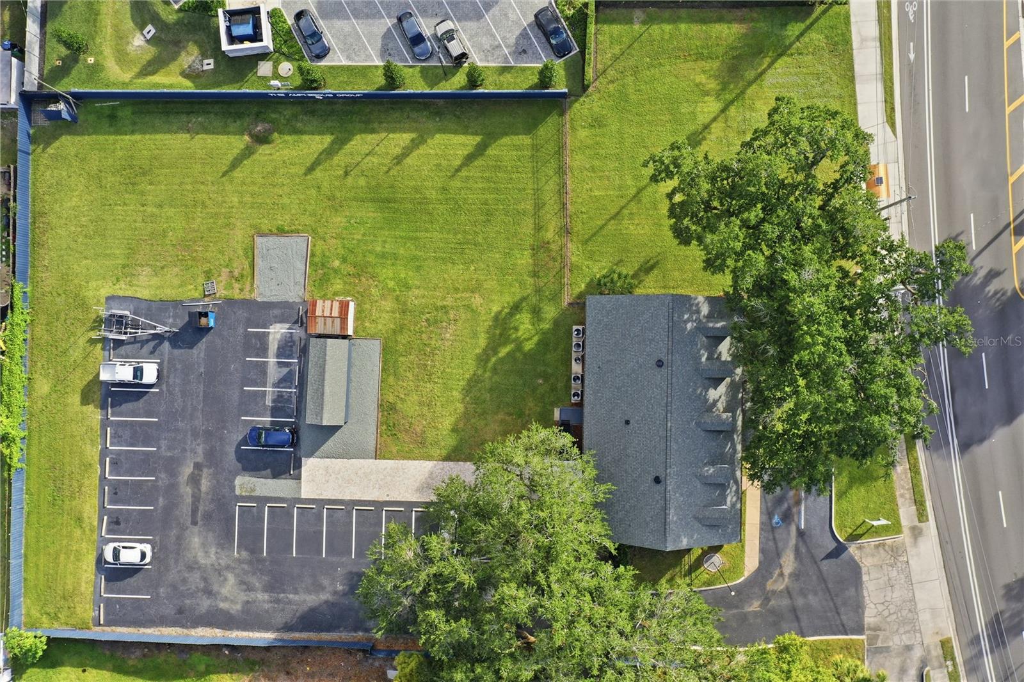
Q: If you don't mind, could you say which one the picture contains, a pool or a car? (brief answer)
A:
car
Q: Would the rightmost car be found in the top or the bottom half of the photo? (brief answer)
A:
top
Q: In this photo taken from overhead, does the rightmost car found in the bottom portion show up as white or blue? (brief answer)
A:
blue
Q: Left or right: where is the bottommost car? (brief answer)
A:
left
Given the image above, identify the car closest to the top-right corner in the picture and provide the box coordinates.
[535,7,572,58]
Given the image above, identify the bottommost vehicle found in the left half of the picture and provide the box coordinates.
[105,542,154,567]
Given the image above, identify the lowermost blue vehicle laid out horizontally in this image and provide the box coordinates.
[248,425,298,449]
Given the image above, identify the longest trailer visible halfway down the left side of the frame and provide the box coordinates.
[85,305,178,339]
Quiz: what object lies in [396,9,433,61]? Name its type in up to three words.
car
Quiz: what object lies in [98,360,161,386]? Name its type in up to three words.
truck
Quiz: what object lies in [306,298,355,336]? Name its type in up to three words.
shed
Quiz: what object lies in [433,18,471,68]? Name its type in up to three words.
car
